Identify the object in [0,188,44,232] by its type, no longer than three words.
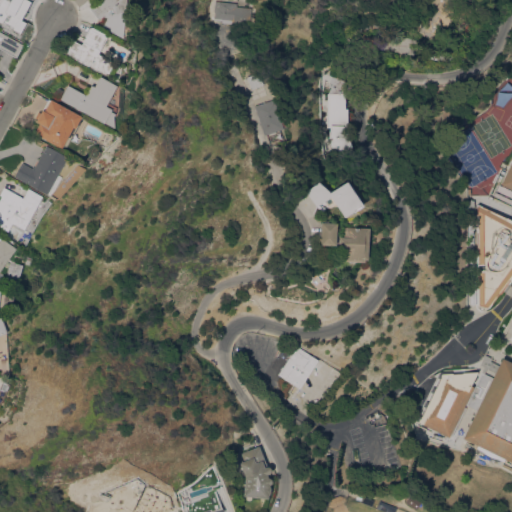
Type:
house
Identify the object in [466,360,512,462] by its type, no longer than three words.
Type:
building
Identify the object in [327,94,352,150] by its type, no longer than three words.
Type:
house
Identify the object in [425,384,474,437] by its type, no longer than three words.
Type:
building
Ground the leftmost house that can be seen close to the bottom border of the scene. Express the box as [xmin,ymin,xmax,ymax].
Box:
[241,446,273,498]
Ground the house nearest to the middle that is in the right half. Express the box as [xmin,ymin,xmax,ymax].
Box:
[322,224,338,246]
